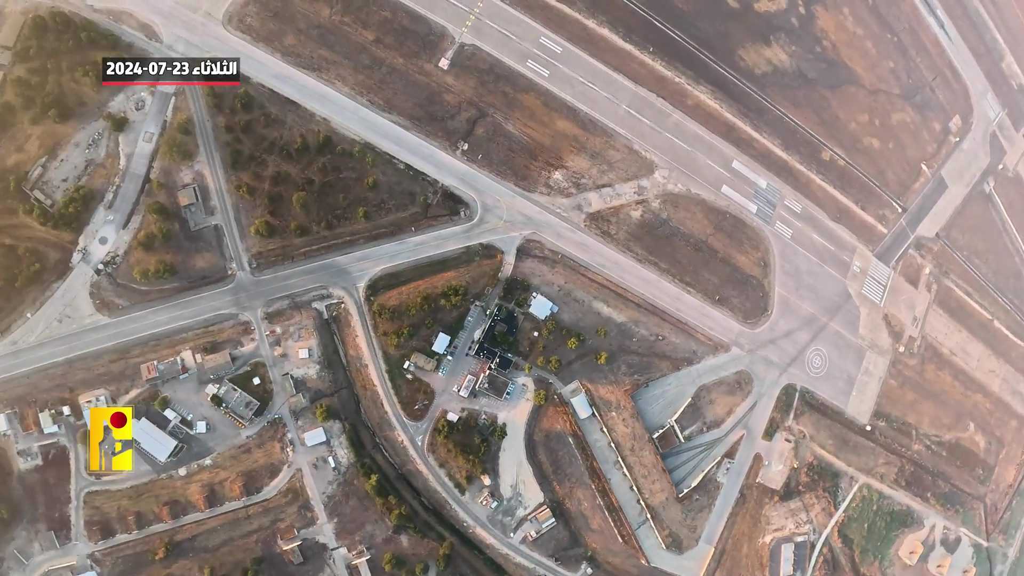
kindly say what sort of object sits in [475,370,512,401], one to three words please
building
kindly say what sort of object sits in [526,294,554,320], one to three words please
building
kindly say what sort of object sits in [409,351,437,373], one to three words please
shed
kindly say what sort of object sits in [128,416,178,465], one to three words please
hangar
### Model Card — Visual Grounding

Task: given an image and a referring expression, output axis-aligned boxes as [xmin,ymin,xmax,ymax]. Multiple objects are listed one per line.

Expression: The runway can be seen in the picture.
[404,0,860,281]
